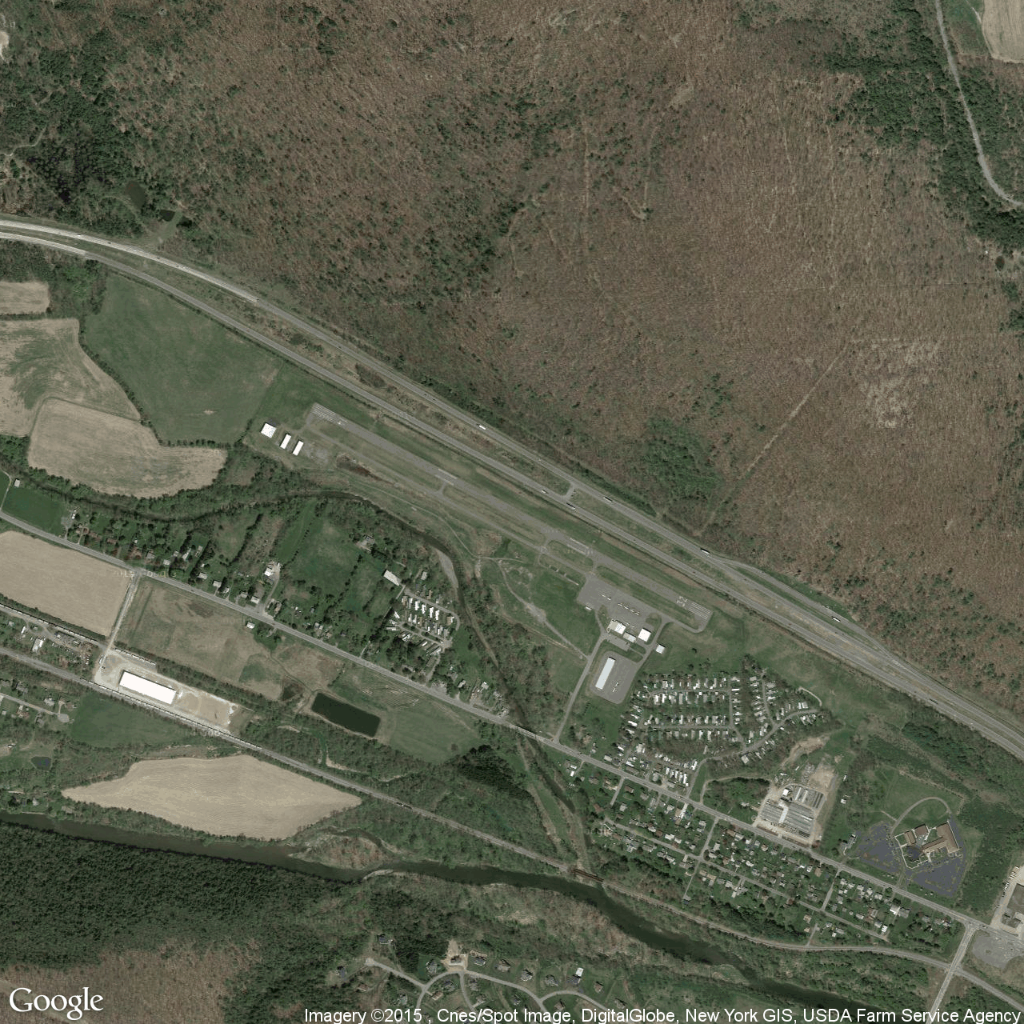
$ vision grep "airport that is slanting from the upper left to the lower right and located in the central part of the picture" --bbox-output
[267,402,712,703]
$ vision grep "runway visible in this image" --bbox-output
[311,402,712,621]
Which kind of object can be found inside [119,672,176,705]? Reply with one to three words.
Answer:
building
